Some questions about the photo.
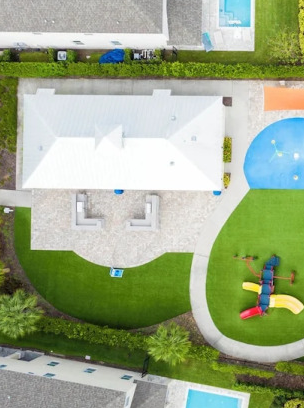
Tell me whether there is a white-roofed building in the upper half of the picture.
Yes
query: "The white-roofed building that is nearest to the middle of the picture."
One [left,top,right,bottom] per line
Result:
[21,91,226,192]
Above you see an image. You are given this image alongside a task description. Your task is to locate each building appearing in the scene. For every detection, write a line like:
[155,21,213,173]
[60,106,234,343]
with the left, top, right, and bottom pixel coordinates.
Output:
[0,0,206,54]
[21,91,226,192]
[0,334,170,408]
